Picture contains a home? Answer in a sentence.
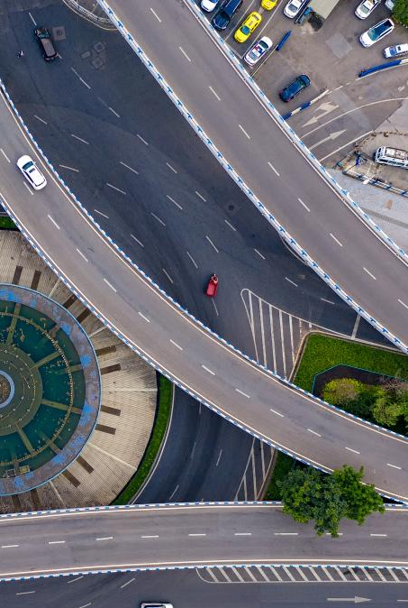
No, the picture doesn't show any home.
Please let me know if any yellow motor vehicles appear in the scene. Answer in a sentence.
Yes, I can see a yellow motor vehicle in this picture.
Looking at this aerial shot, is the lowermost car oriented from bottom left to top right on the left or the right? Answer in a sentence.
The lowermost car oriented from bottom left to top right is on the right side of the image.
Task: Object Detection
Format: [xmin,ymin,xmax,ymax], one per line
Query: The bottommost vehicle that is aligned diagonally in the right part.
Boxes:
[278,75,307,102]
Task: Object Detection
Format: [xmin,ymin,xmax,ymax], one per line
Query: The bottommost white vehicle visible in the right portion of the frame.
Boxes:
[370,149,408,171]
